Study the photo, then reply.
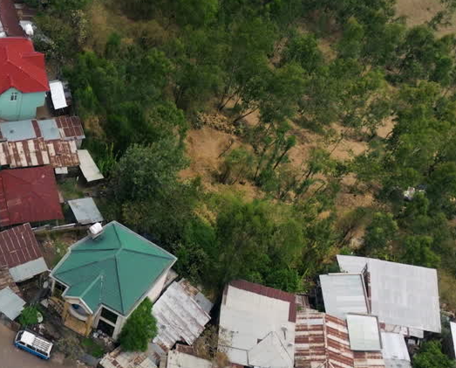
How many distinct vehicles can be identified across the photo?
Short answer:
one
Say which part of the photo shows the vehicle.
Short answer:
bottom left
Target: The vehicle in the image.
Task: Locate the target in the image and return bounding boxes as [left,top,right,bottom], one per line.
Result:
[12,331,55,361]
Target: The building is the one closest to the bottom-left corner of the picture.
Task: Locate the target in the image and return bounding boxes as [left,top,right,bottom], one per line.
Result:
[0,287,26,330]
